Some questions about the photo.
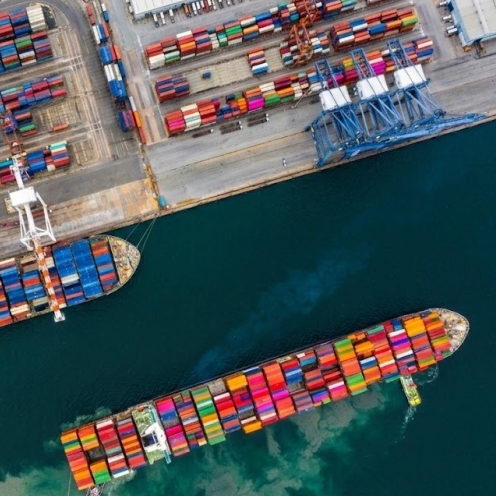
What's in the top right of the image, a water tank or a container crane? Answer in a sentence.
The feature located in the top right of the image is a container crane.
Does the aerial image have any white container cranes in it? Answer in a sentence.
Yes, I can see a white container crane in this picture.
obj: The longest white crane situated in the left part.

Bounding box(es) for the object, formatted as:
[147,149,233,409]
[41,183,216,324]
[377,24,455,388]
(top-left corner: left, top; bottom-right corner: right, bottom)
[5,158,64,323]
